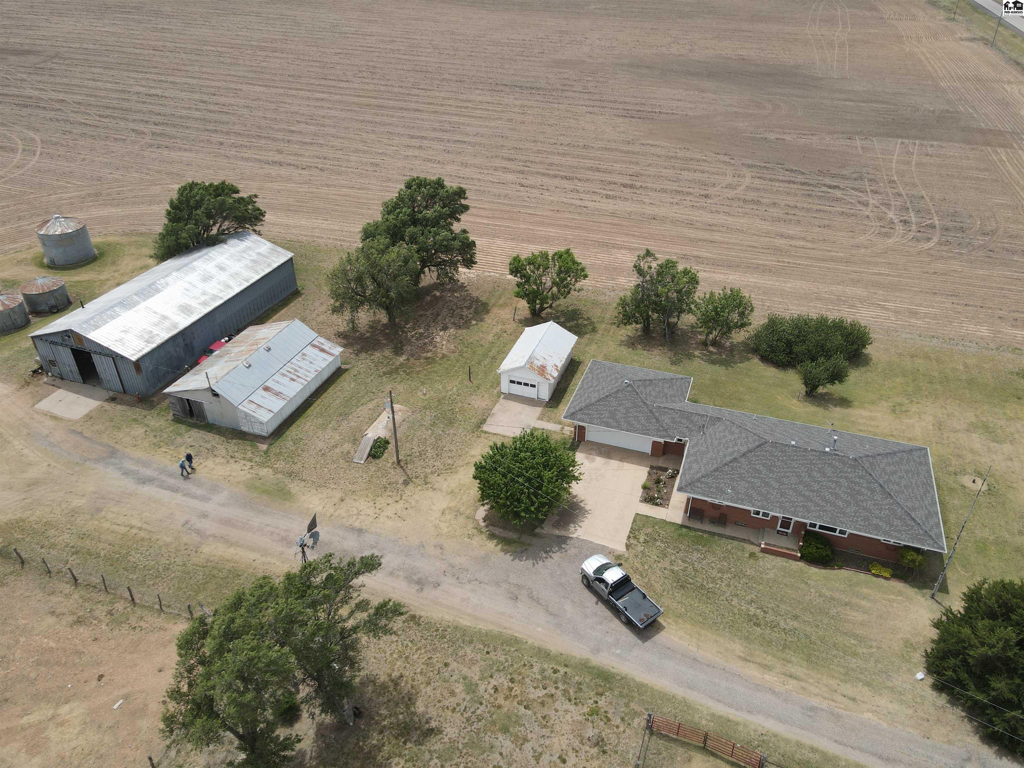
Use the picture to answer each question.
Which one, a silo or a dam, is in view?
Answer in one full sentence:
Of the two, only a silo appears.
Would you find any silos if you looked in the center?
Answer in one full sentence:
No, there's no silo to be seen in the center.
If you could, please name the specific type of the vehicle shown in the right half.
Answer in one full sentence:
It turns out the vehicle shown in the right half is a truck.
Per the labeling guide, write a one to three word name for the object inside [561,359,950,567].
house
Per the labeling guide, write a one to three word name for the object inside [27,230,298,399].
barn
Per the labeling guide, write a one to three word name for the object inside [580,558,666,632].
truck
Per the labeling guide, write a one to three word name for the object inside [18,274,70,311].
silo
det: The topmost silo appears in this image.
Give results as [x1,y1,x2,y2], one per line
[34,213,95,261]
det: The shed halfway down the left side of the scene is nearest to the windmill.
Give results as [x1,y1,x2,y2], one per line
[162,318,342,438]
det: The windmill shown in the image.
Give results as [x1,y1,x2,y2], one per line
[292,513,323,574]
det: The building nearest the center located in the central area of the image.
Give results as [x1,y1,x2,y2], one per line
[496,321,577,402]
